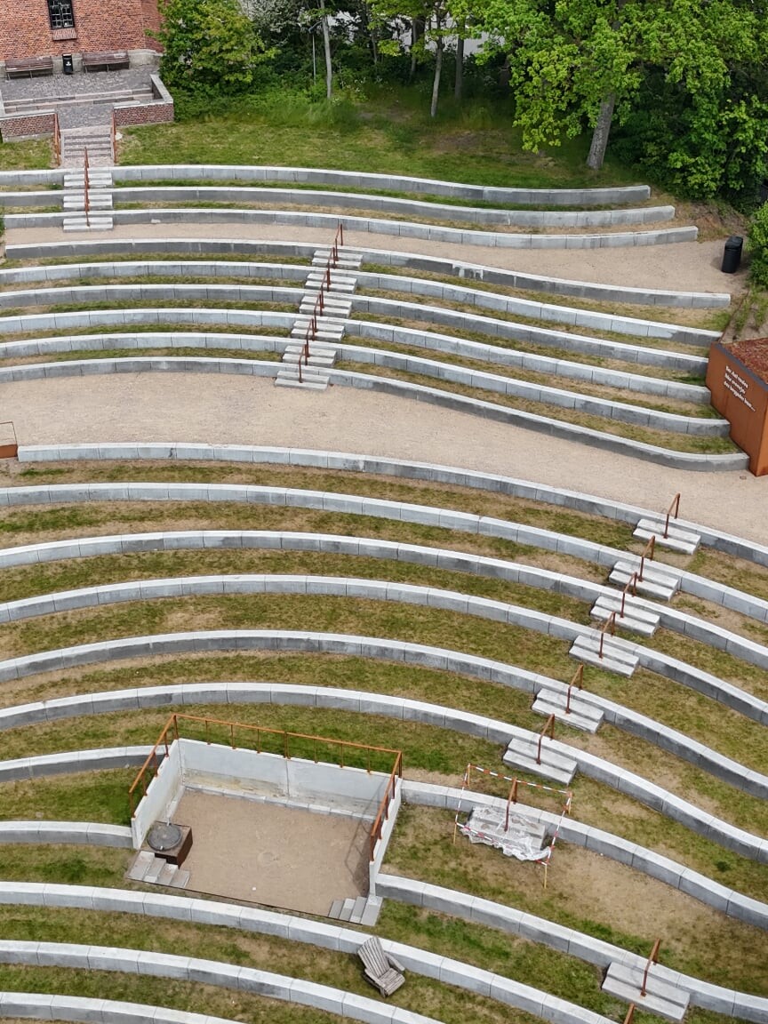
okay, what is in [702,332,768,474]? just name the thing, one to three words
shed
